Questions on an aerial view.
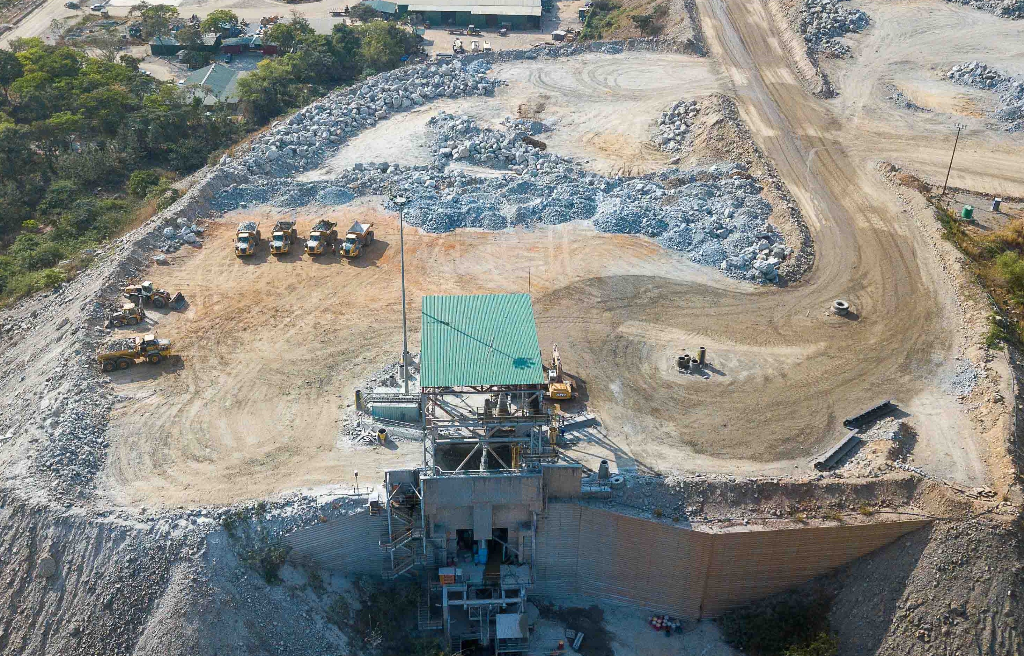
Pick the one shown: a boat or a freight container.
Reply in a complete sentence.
The image shows a freight container.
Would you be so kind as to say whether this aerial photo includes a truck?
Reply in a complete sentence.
Yes, I can see a truck in this picture.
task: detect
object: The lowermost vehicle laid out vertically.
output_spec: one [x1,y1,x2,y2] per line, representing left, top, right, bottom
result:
[548,336,574,399]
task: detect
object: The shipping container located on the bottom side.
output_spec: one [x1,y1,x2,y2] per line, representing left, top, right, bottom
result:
[370,396,419,423]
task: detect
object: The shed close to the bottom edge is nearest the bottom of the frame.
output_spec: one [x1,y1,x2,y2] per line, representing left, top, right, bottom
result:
[495,611,526,656]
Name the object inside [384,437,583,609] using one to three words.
building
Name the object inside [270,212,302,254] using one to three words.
truck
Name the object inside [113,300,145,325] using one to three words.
work vehicle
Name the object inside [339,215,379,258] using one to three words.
truck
